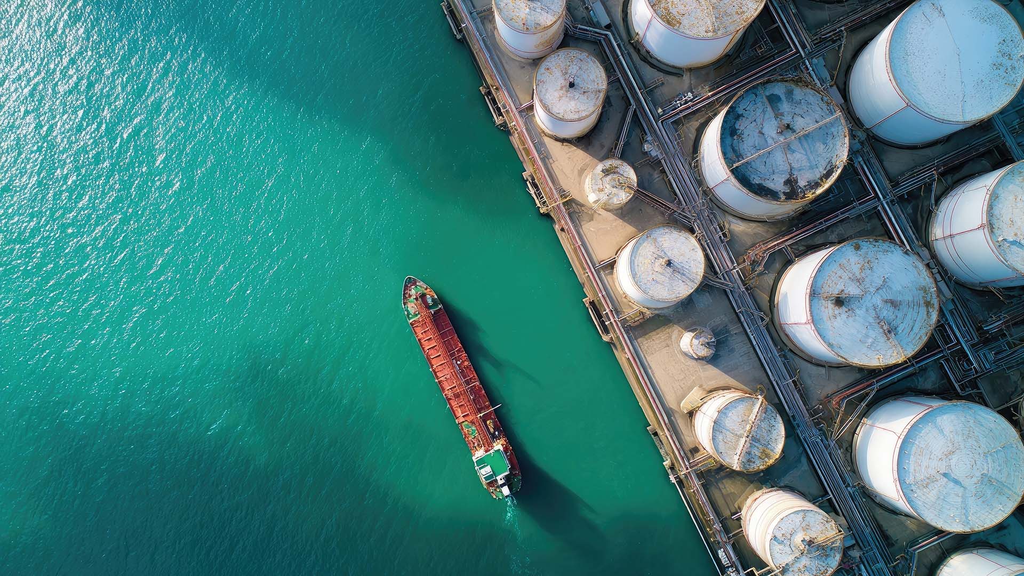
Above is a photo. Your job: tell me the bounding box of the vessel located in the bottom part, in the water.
[401,276,524,501]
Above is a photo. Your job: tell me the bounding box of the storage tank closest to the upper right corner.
[844,0,1024,155]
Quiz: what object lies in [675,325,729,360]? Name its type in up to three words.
storage tank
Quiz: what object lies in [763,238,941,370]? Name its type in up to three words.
storage tank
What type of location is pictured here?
industrial area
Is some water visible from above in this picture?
Yes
